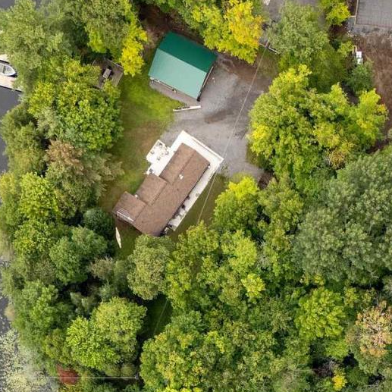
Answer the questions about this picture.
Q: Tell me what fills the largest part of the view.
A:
trees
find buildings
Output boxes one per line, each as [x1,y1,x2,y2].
[148,32,219,104]
[115,143,212,242]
